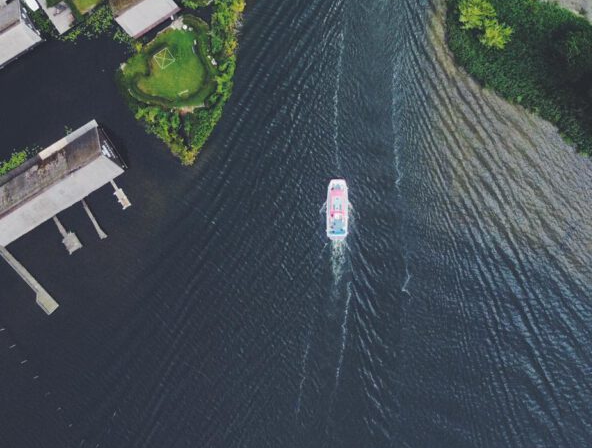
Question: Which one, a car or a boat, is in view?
boat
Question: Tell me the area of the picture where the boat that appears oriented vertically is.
center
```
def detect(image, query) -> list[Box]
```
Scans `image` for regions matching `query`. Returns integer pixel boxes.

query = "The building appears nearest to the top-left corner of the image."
[0,0,46,67]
